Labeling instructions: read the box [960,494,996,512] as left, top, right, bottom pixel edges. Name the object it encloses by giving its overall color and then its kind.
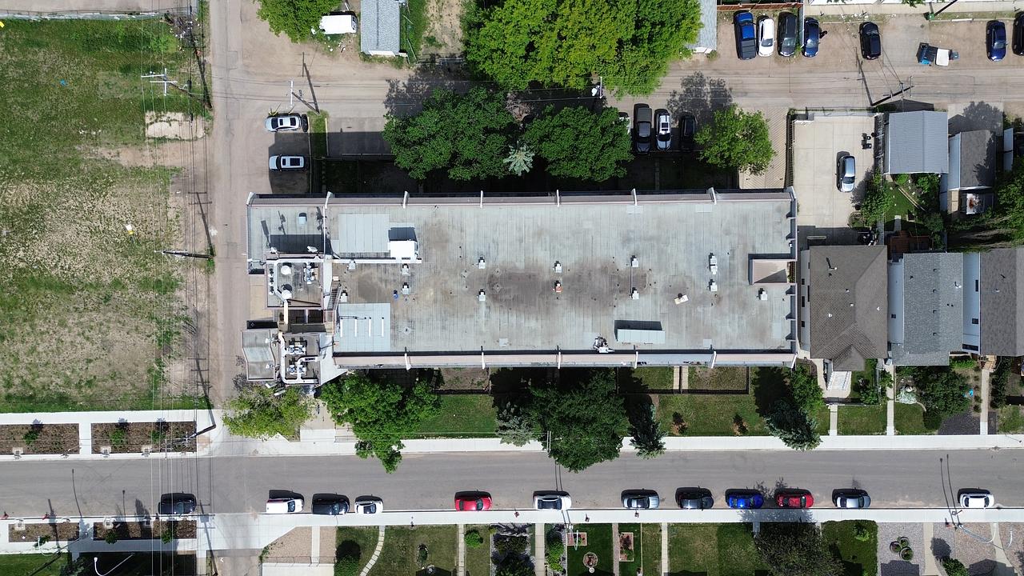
white car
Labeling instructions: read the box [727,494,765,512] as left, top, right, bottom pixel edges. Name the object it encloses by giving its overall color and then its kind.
blue car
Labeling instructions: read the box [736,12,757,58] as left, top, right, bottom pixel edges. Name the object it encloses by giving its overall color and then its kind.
blue truck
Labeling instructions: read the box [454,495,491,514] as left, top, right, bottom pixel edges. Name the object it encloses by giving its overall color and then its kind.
red car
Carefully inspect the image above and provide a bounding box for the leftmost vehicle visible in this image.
[156,496,194,515]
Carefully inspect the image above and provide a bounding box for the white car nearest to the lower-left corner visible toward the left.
[265,496,302,514]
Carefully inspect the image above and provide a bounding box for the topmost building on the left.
[359,0,402,59]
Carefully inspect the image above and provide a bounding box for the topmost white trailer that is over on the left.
[320,14,359,39]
